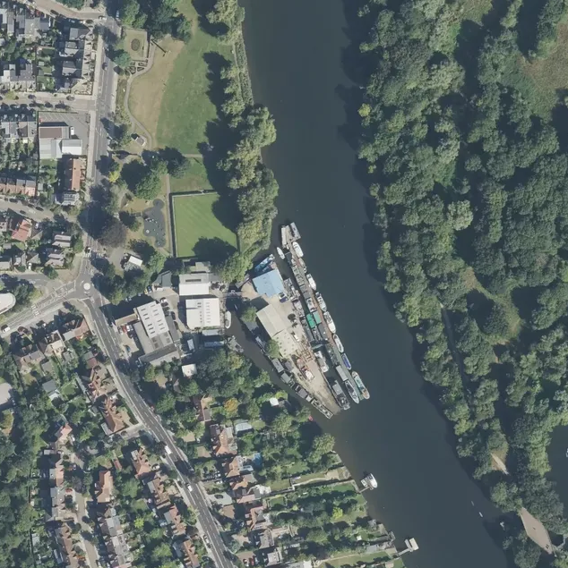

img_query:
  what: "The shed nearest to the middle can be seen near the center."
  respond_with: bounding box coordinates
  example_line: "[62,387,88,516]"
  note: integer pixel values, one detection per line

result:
[253,268,285,299]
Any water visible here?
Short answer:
Yes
